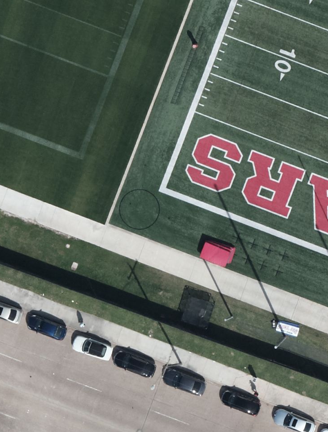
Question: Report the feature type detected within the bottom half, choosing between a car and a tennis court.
car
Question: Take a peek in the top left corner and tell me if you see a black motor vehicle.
No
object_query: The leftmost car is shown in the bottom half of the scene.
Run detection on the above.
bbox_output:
[0,300,23,324]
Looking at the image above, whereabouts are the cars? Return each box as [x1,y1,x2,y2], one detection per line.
[220,389,263,418]
[71,334,114,362]
[272,410,318,432]
[0,300,23,324]
[112,349,158,380]
[26,312,69,340]
[162,367,208,396]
